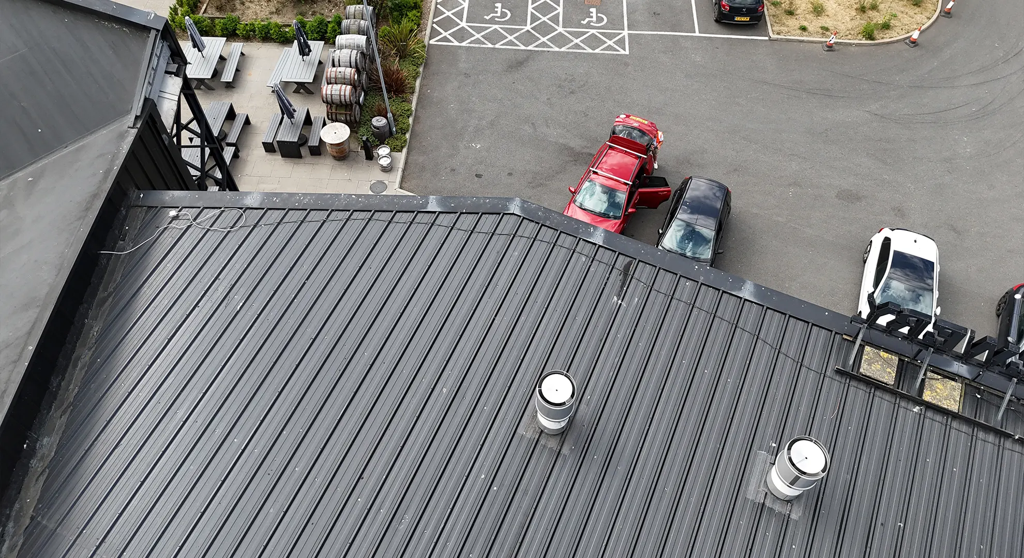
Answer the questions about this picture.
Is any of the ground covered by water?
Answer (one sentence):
No, there is no water in the image.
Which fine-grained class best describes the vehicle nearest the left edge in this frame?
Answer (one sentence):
It looks like the vehicle nearest the left edge is a car.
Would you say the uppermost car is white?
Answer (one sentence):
No, from above the uppermost car looks black.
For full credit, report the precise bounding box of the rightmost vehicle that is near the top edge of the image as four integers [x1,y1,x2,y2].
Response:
[715,0,768,26]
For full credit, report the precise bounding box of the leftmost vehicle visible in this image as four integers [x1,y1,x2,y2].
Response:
[566,111,668,239]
